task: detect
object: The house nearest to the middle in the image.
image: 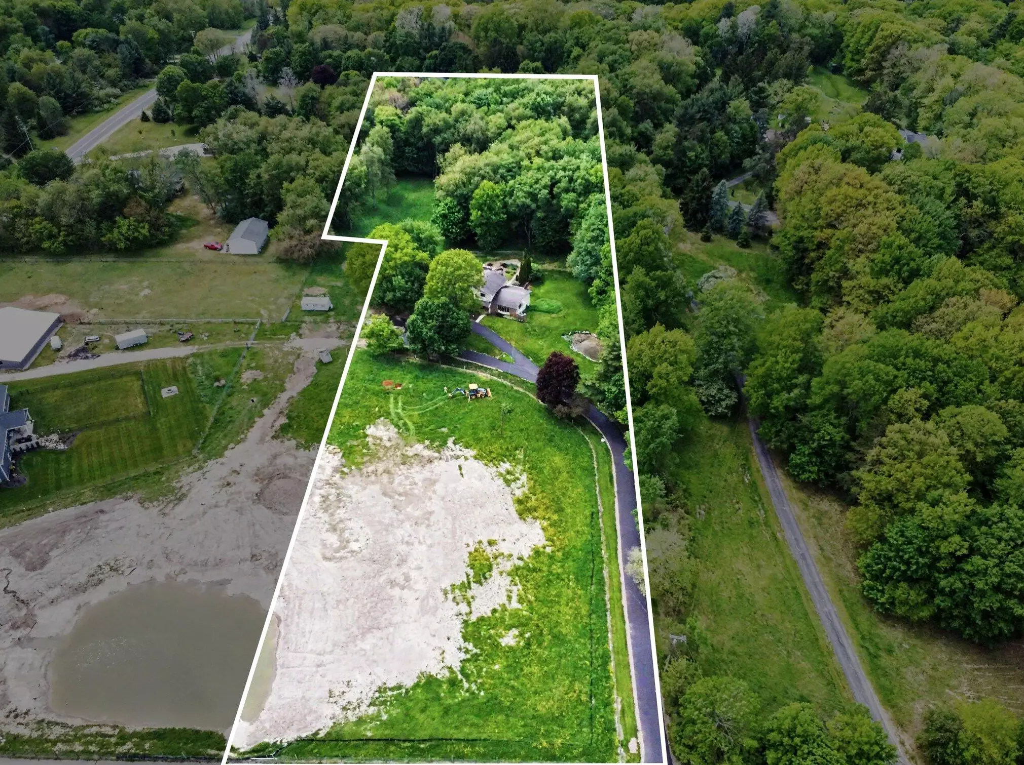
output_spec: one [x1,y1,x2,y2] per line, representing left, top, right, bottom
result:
[466,270,532,325]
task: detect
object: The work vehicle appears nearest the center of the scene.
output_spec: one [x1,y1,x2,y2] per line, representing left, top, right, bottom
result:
[448,384,496,405]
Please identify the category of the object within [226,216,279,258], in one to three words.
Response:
shed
